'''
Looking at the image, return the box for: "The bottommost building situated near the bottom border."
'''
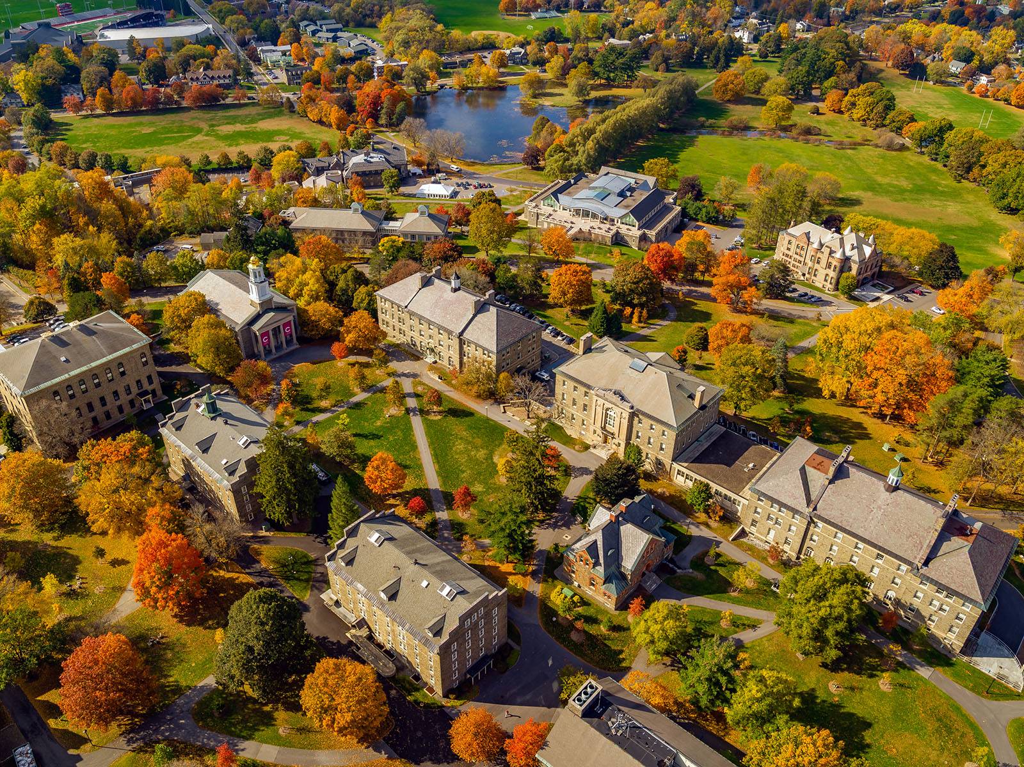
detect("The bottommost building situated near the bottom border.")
[528,669,745,767]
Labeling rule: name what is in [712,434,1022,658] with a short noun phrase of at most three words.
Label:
building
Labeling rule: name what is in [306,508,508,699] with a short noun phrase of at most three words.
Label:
building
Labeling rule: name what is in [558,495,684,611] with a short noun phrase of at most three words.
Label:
house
